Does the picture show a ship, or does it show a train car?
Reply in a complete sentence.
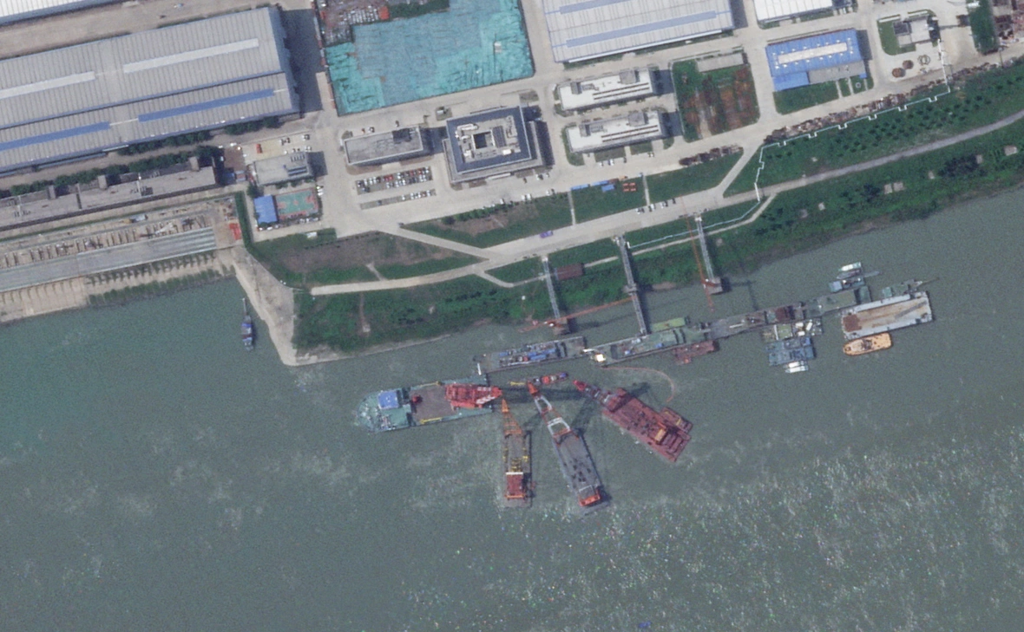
Looking from above, you can make out a ship.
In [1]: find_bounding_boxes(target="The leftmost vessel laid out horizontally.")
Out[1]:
[357,374,502,432]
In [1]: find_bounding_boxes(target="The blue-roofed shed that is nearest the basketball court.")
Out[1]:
[254,195,281,226]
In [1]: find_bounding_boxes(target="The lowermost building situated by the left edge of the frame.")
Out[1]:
[0,156,224,231]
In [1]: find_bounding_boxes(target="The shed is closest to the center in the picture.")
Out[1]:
[555,263,586,280]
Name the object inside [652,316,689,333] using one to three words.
pier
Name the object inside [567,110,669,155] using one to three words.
building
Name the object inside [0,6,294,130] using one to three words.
warehouse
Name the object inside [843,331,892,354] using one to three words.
boat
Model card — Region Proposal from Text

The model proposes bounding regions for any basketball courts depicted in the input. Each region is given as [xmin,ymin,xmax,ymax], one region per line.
[277,187,318,219]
